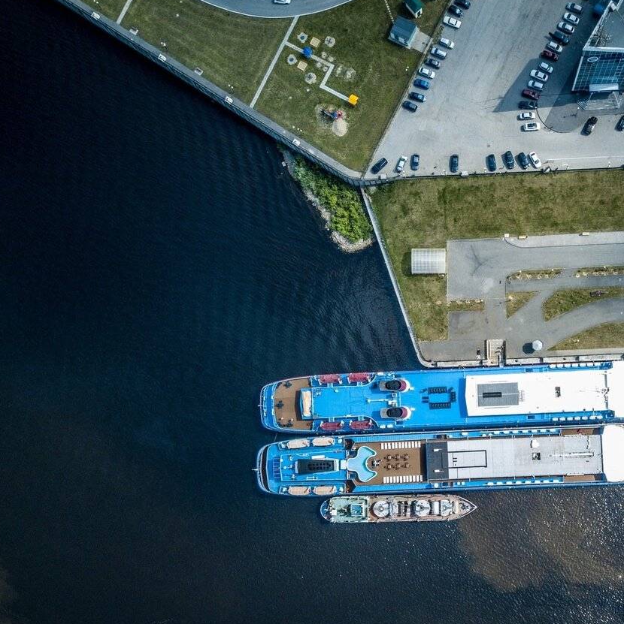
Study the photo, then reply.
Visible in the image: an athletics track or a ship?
ship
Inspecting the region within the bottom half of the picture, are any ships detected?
Yes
